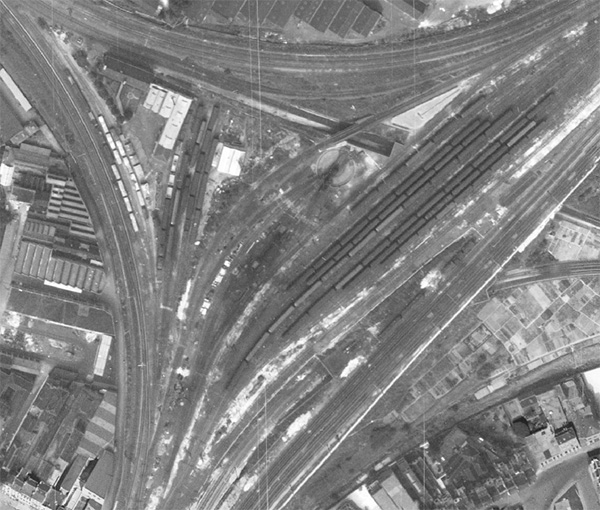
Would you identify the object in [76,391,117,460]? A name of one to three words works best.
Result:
building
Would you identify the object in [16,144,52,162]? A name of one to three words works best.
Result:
building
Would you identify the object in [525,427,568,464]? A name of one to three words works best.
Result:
house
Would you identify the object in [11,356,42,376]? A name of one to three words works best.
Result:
shed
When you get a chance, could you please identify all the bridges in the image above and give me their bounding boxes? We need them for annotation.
[306,101,398,158]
